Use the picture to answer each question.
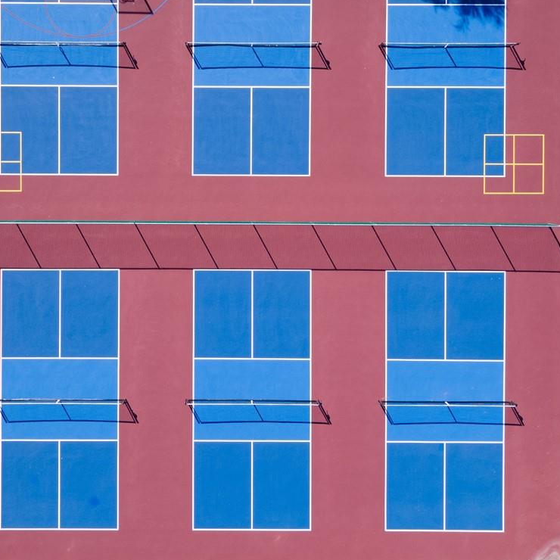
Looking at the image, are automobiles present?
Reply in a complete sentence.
No, there appears to be no automobile in this shot.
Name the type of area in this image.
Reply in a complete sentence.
This looks like a sports ground.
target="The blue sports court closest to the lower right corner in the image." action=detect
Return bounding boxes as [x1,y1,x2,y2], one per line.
[385,271,506,533]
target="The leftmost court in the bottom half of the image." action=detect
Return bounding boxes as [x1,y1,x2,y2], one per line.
[0,269,119,530]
